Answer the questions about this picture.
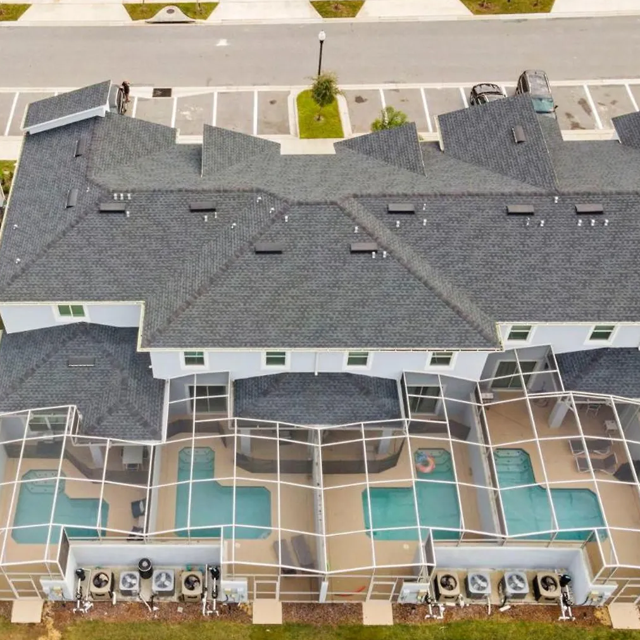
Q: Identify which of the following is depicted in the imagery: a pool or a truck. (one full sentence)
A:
I can see a pool in this picture.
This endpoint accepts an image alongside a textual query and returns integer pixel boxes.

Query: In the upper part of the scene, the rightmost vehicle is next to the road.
[519,69,565,128]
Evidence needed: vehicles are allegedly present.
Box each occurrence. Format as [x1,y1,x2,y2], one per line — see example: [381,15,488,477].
[97,72,125,113]
[519,69,565,128]
[474,81,507,109]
